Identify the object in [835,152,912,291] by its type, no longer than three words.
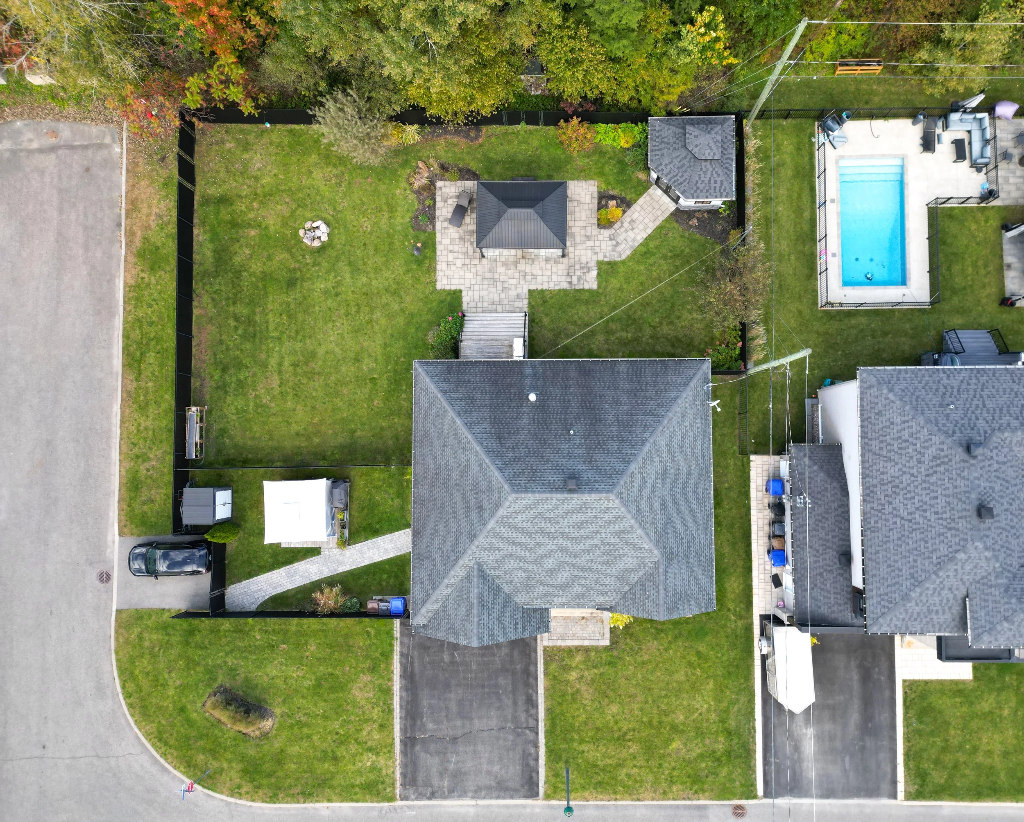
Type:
swimming pool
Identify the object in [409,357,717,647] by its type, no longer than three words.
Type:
house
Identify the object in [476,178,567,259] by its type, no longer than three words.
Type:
gazebo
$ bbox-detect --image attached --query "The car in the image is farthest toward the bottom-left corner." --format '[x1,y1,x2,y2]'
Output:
[131,541,211,583]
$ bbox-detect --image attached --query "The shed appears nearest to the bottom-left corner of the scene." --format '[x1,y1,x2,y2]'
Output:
[179,487,233,524]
